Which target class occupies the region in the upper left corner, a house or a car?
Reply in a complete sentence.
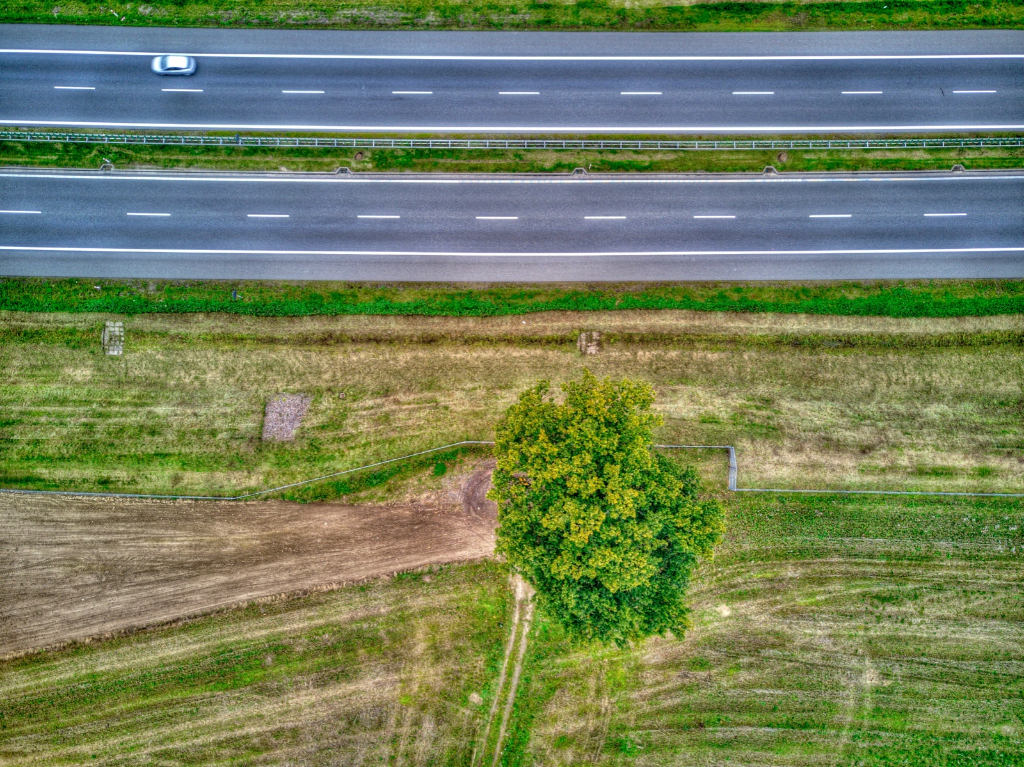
Looking in the upper left corner, you will find a car.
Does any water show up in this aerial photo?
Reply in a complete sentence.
No, the picture contains no water.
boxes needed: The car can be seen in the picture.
[152,52,196,76]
